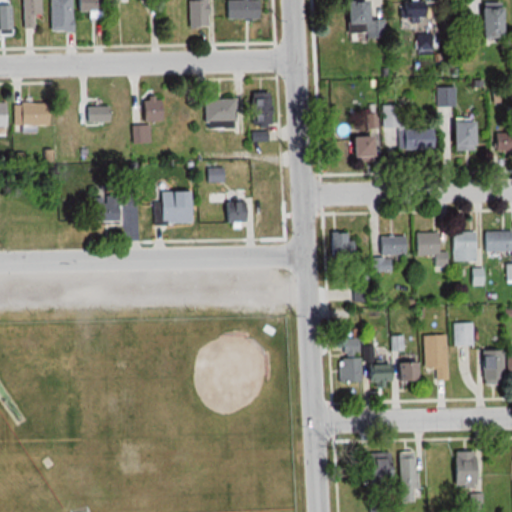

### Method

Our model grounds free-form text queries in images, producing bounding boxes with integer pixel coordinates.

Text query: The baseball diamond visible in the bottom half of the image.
[194,330,270,414]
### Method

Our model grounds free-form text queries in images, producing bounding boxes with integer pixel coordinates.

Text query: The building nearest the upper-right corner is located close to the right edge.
[485,0,508,38]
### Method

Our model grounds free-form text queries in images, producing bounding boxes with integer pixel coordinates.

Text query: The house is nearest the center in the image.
[226,196,248,230]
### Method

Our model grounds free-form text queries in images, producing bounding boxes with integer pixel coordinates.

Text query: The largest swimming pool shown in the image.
[337,123,352,138]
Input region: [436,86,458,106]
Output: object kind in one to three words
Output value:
building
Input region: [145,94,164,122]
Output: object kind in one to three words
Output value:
house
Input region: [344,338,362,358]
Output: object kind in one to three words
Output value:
building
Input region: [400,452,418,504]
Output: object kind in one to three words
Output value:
house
